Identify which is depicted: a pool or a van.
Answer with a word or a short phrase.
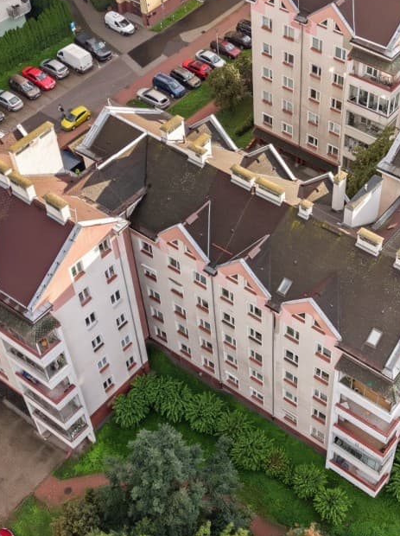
van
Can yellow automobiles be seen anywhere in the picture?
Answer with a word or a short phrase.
Yes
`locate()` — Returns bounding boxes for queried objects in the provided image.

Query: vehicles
[192,47,229,71]
[20,65,56,91]
[37,55,70,80]
[151,71,187,99]
[181,56,211,81]
[57,41,94,73]
[6,73,43,101]
[167,63,203,91]
[58,102,95,131]
[134,84,171,110]
[233,15,250,37]
[0,88,25,113]
[76,32,109,59]
[221,27,250,52]
[102,5,135,34]
[210,35,242,61]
